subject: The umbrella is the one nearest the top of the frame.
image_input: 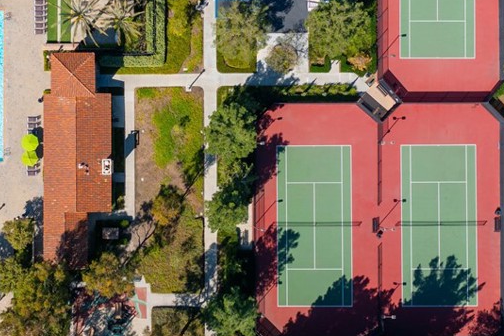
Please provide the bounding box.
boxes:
[22,134,38,150]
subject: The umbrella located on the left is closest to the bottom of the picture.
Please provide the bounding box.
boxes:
[22,151,39,166]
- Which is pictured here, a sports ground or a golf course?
sports ground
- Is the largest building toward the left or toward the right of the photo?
left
